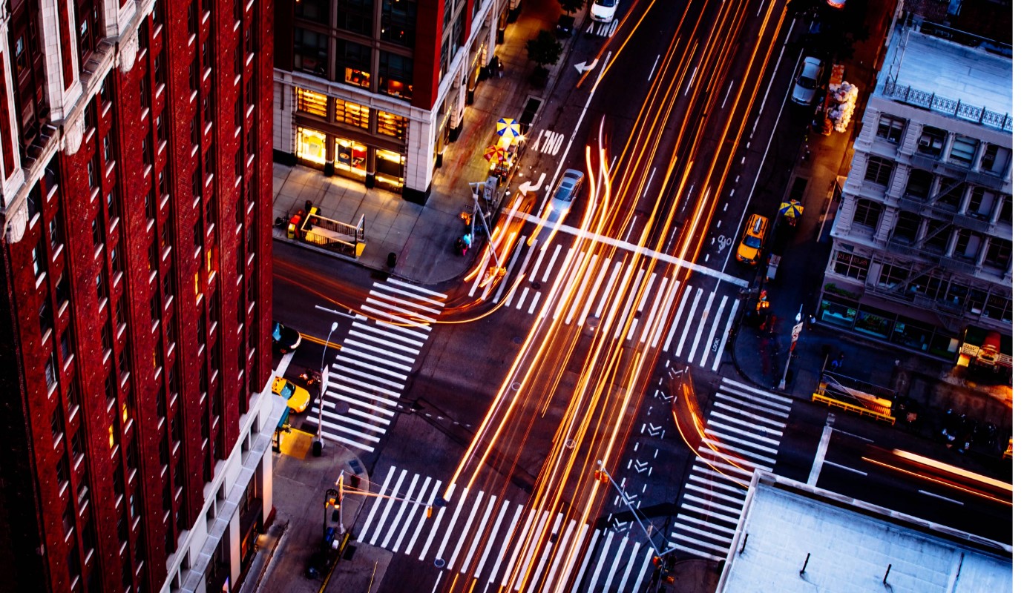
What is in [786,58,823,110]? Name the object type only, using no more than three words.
car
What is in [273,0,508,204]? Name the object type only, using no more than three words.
building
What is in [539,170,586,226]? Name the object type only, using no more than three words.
car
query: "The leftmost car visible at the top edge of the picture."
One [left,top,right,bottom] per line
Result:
[587,0,623,30]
